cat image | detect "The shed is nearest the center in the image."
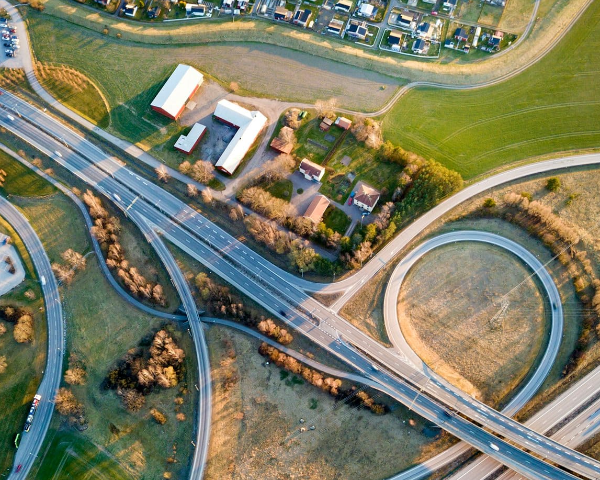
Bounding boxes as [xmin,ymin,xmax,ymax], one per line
[304,194,329,220]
